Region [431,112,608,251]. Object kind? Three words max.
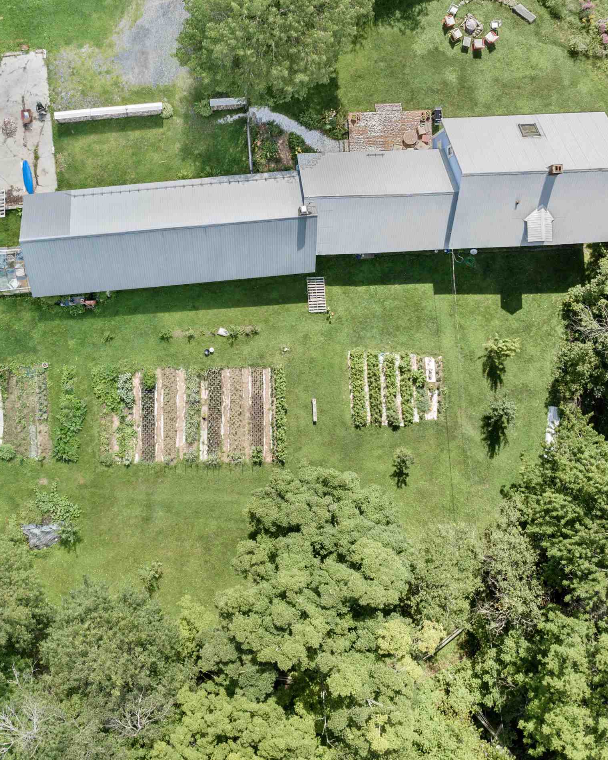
house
